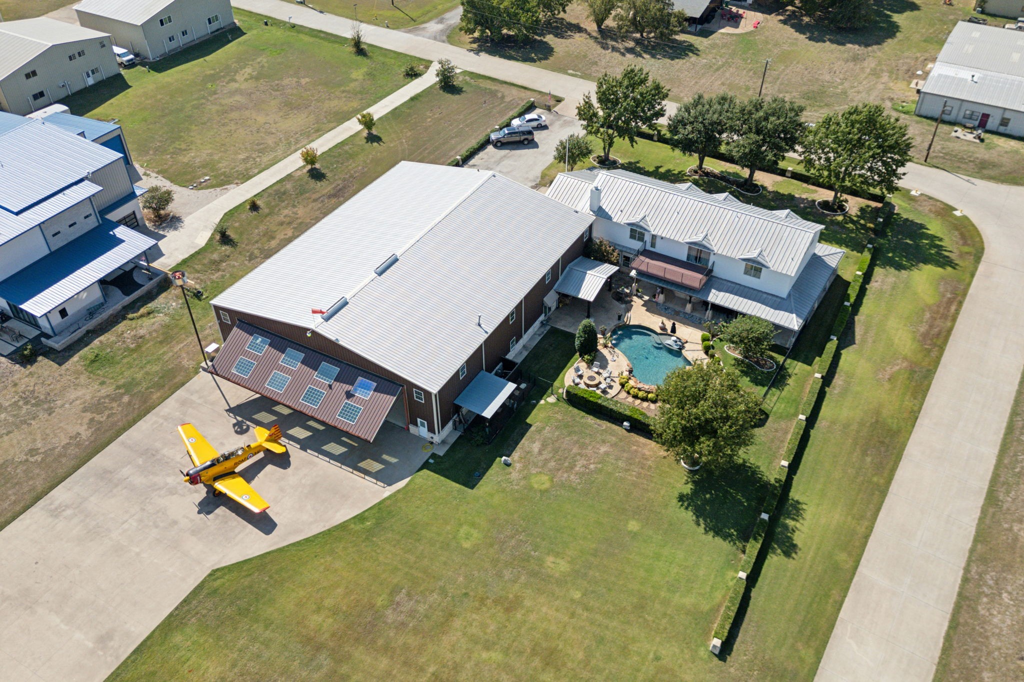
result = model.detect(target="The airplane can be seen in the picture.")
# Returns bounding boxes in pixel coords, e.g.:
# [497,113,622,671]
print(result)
[172,424,288,514]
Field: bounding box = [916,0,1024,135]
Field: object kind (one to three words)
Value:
barn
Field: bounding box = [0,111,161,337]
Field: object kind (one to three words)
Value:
house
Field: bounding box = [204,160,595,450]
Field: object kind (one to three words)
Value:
hangar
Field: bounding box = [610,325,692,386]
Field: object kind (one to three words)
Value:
swimming pool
